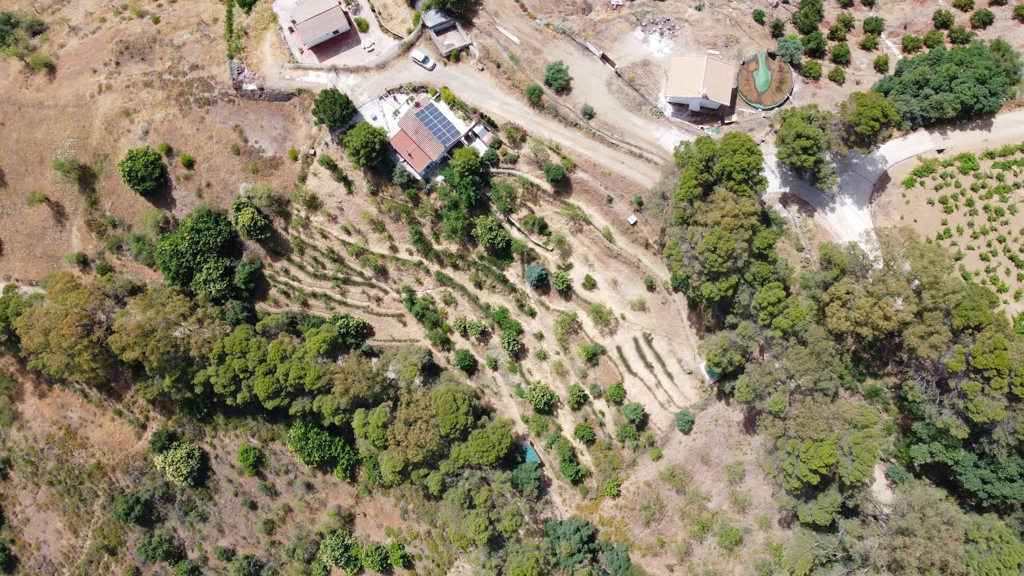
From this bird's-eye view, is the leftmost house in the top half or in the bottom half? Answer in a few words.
top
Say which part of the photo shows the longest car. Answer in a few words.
top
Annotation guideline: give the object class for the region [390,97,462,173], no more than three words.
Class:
house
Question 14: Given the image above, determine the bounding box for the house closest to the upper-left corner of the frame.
[285,0,353,50]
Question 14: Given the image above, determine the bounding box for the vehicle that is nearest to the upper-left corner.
[411,49,436,71]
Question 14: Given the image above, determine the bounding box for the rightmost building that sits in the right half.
[664,56,735,108]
